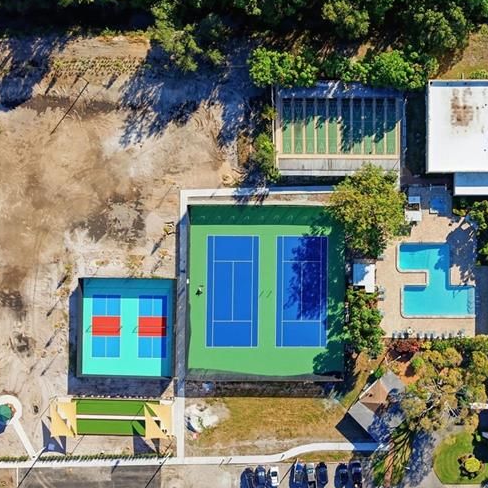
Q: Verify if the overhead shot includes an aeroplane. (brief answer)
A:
No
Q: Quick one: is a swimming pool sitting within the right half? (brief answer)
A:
Yes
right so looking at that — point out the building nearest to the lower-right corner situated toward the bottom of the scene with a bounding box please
[348,370,416,443]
